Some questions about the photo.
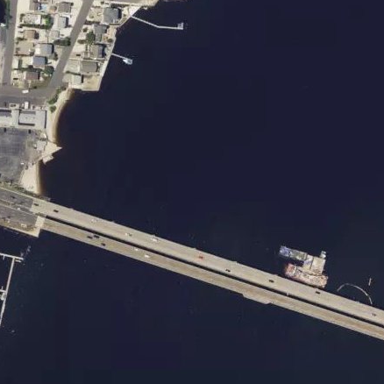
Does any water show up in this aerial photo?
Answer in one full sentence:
Yes, water shows up in the scene.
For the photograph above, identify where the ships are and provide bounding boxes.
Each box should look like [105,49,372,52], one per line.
[279,245,307,261]
[311,257,325,275]
[285,263,328,287]
[302,255,313,270]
